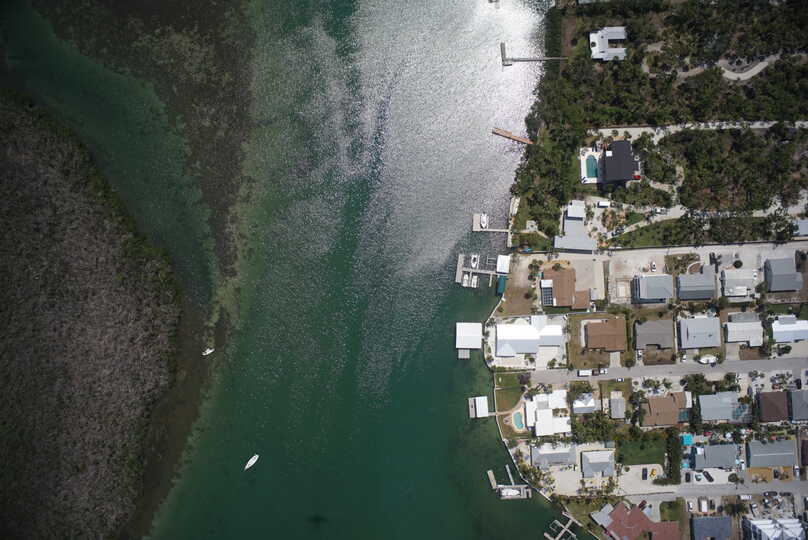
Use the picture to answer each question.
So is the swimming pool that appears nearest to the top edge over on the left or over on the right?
right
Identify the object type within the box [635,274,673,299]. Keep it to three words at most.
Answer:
house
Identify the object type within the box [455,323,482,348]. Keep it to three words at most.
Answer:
building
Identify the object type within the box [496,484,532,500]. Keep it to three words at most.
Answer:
pier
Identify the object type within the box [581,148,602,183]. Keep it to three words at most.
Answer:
swimming pool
